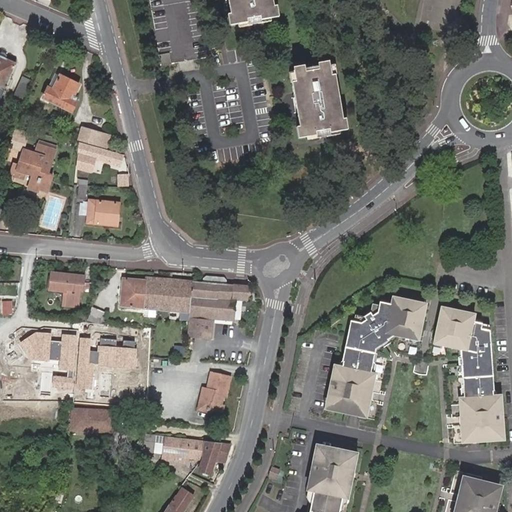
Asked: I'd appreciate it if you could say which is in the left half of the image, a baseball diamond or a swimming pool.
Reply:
swimming pool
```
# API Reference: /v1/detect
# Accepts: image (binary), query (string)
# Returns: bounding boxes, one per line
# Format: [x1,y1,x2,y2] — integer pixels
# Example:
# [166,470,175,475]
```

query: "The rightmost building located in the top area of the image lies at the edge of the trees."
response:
[288,60,349,142]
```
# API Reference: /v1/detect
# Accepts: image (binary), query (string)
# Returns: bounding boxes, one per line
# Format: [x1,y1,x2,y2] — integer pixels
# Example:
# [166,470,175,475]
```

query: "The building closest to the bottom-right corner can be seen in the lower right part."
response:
[452,474,504,512]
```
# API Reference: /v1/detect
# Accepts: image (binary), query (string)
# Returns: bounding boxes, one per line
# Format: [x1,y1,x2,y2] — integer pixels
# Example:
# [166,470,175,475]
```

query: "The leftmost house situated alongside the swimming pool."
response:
[11,140,58,196]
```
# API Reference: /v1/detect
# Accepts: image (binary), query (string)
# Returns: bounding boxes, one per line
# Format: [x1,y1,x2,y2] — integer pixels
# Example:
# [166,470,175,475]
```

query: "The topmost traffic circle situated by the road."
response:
[443,54,512,147]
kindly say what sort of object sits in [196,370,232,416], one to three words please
house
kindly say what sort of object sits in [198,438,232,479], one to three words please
house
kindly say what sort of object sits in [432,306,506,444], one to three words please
building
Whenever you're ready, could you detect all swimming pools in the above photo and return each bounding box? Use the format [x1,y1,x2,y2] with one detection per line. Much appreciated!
[39,192,67,231]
